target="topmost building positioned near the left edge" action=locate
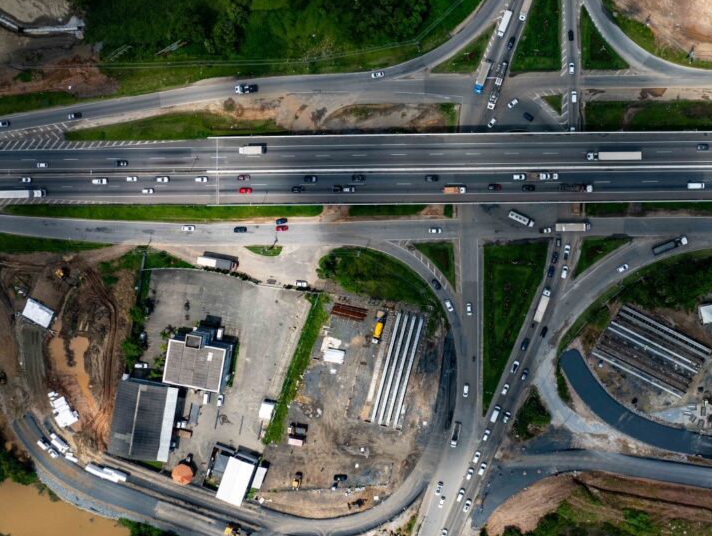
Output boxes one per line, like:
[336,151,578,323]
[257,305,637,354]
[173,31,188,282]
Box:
[22,297,60,328]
